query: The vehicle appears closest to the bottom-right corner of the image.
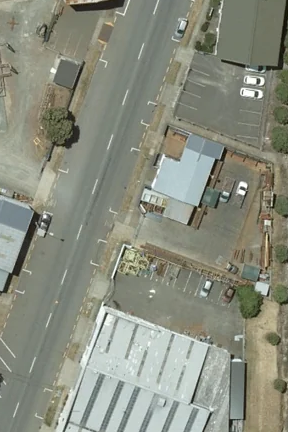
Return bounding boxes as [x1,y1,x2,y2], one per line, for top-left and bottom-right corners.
[221,284,235,306]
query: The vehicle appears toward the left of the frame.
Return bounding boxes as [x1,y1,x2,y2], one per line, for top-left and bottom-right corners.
[35,210,52,237]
